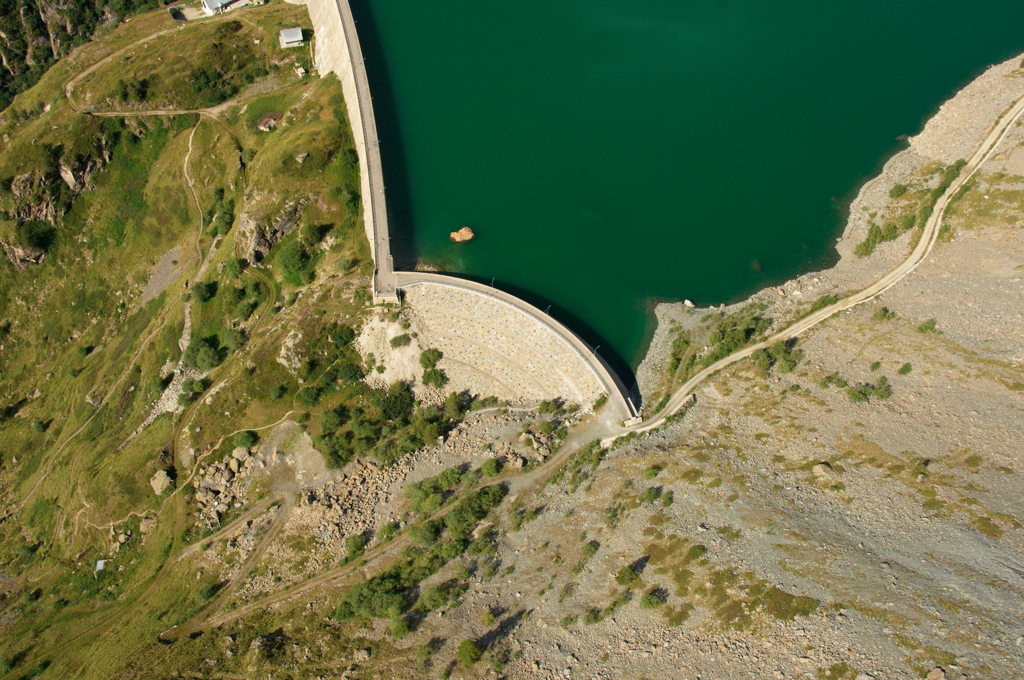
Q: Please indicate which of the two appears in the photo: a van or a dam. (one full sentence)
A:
The one in the frame is a dam.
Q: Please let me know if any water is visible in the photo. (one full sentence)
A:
Yes, some water is visible.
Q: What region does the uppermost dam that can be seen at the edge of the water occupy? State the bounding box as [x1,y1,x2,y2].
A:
[282,0,421,307]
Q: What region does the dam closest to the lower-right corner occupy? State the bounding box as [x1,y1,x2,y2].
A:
[398,270,631,422]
